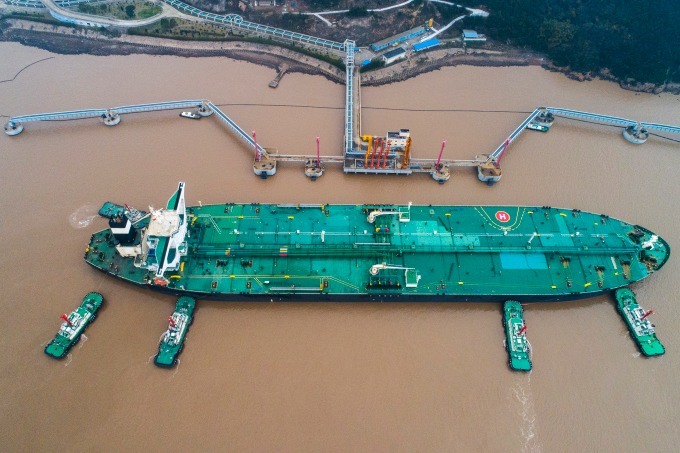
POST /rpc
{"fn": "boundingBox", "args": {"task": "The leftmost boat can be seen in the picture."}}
[42,290,103,363]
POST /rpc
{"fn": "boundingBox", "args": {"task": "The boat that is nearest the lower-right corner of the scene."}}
[617,286,666,357]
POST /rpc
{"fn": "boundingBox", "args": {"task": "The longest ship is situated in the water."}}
[83,179,671,302]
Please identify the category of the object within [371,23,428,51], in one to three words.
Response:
building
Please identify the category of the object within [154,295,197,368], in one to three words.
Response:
boat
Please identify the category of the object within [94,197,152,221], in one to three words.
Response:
boat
